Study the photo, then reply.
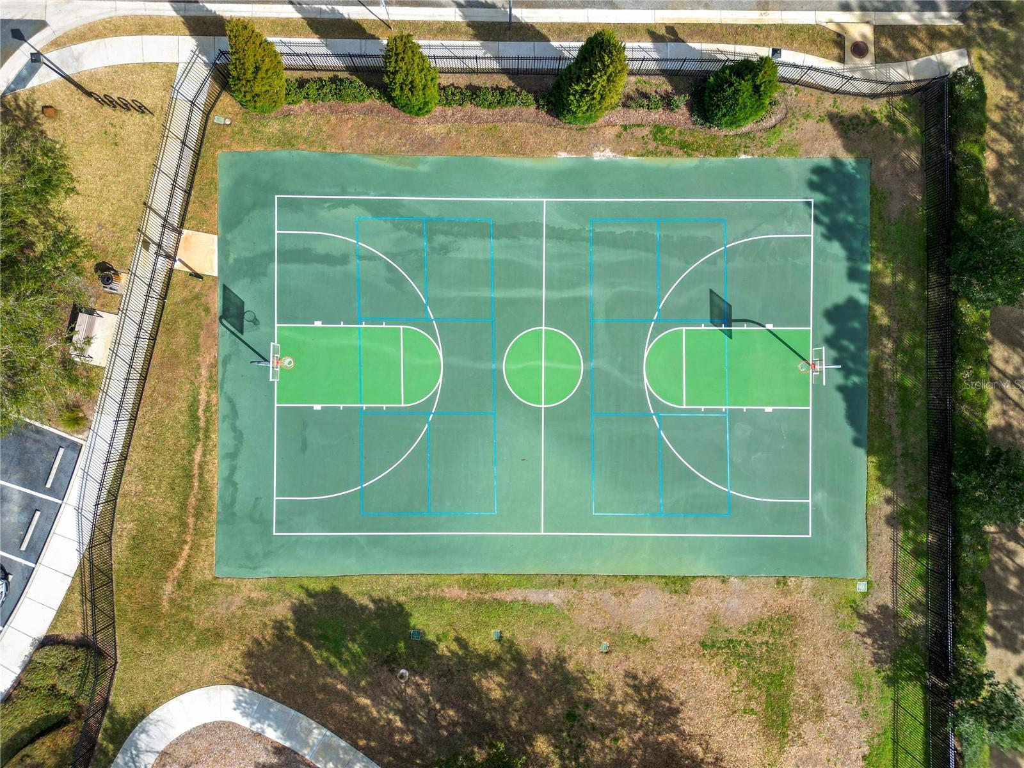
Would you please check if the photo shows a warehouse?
No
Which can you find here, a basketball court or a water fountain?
basketball court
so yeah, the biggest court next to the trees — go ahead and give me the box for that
[215,151,870,578]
